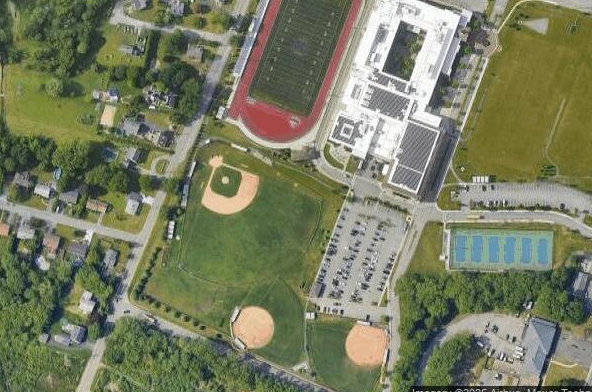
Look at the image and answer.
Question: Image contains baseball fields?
Yes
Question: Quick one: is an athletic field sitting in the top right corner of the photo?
Yes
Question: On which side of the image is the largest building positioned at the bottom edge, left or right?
right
